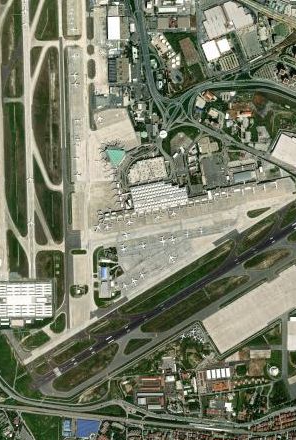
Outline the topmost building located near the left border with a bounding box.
[0,284,52,317]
